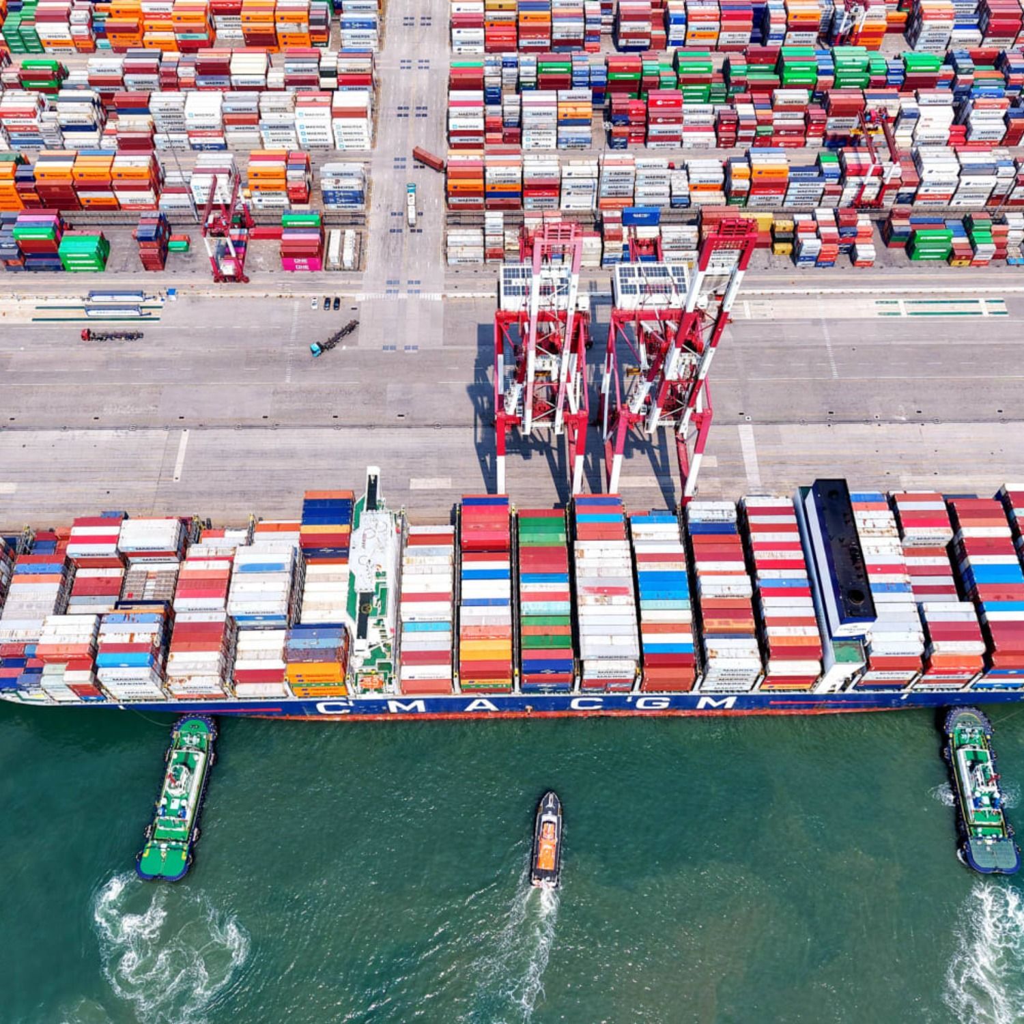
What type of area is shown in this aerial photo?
port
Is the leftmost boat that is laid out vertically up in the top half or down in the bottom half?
bottom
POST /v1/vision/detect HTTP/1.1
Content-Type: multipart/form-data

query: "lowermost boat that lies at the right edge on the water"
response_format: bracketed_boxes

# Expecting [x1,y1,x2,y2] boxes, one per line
[937,702,1024,866]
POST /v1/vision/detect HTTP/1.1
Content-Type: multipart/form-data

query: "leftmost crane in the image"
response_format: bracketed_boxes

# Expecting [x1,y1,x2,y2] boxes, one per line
[199,168,255,278]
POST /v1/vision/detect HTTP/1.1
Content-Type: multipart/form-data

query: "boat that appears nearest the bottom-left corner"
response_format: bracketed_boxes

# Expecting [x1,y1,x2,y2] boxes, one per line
[138,715,219,880]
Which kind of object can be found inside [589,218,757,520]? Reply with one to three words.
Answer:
container crane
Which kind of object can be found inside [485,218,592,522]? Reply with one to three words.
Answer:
container crane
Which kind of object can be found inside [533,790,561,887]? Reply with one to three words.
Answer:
boat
